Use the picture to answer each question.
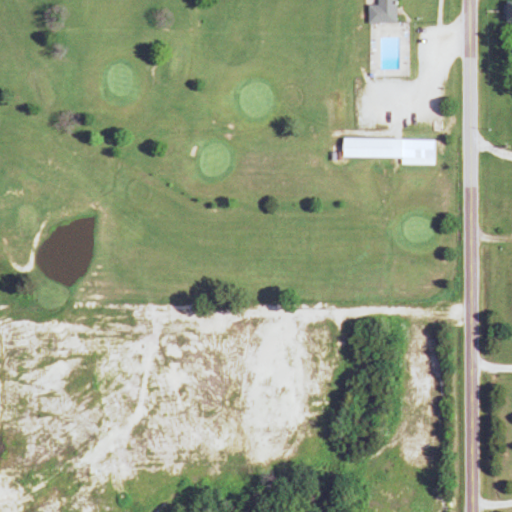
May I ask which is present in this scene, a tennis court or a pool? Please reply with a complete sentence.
I can see a pool in this picture.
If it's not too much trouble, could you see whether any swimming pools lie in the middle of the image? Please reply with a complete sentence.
No, there's no swimming pool to be seen in the middle of the image.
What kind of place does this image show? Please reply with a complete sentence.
The area seen from above is a golf course.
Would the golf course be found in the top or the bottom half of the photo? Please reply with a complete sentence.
The golf course is in the top half of the image.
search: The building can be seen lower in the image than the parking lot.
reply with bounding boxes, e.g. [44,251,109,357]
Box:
[344,138,436,166]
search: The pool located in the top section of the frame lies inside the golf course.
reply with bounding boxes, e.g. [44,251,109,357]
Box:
[370,23,410,78]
